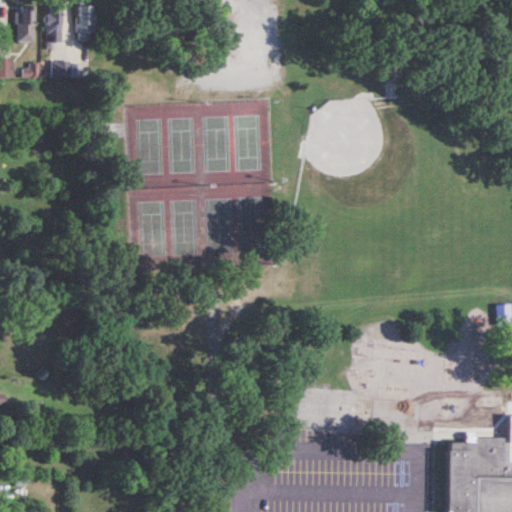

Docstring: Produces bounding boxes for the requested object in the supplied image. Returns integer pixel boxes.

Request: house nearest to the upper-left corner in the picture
[17,4,36,44]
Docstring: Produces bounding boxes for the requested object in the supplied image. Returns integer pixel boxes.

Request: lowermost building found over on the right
[452,416,512,512]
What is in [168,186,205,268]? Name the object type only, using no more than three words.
tennis court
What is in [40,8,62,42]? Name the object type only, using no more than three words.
house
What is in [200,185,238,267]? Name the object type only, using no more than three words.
tennis court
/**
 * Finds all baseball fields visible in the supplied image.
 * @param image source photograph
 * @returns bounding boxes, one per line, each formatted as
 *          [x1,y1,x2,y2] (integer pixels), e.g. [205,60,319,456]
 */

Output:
[276,88,512,302]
